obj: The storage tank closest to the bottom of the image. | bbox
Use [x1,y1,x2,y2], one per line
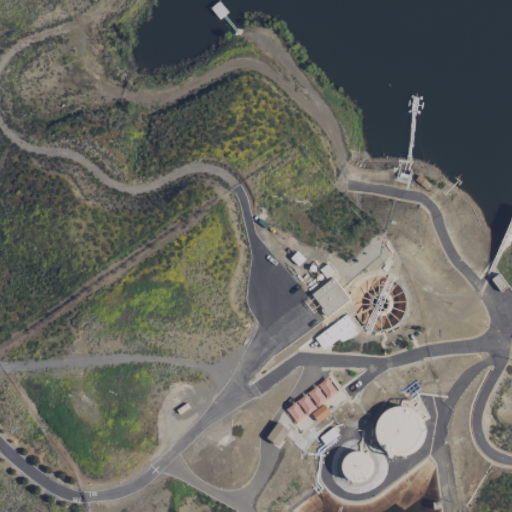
[342,451,375,484]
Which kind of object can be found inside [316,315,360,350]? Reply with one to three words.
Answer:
building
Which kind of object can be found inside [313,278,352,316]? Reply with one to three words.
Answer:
building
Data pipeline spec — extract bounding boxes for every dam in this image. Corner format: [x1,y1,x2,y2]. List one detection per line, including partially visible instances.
[488,224,512,288]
